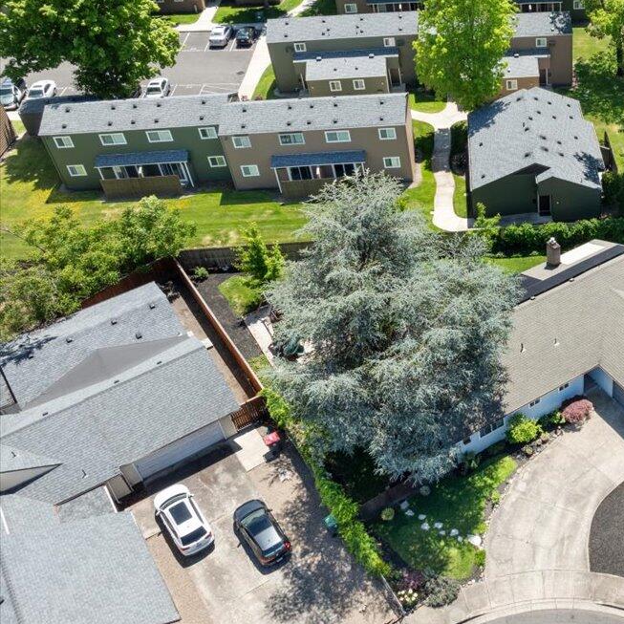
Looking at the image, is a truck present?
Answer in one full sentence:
No, the scene contains no truck.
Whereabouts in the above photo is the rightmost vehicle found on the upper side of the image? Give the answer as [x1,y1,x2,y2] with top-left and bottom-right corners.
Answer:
[234,27,258,45]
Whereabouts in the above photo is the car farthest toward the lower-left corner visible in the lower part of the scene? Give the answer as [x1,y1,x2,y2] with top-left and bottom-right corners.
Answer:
[150,482,214,560]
